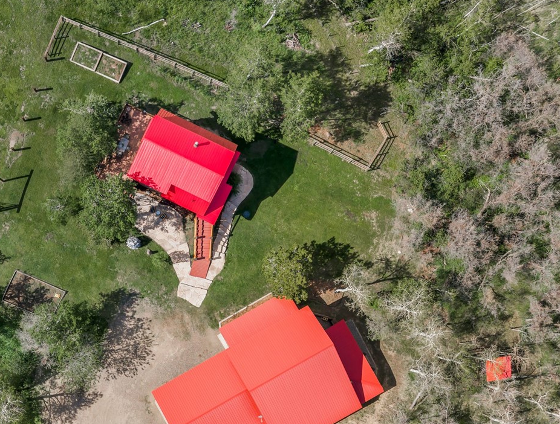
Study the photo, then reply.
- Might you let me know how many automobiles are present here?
0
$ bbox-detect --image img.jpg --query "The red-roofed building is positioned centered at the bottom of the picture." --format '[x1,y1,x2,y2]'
[152,294,384,424]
